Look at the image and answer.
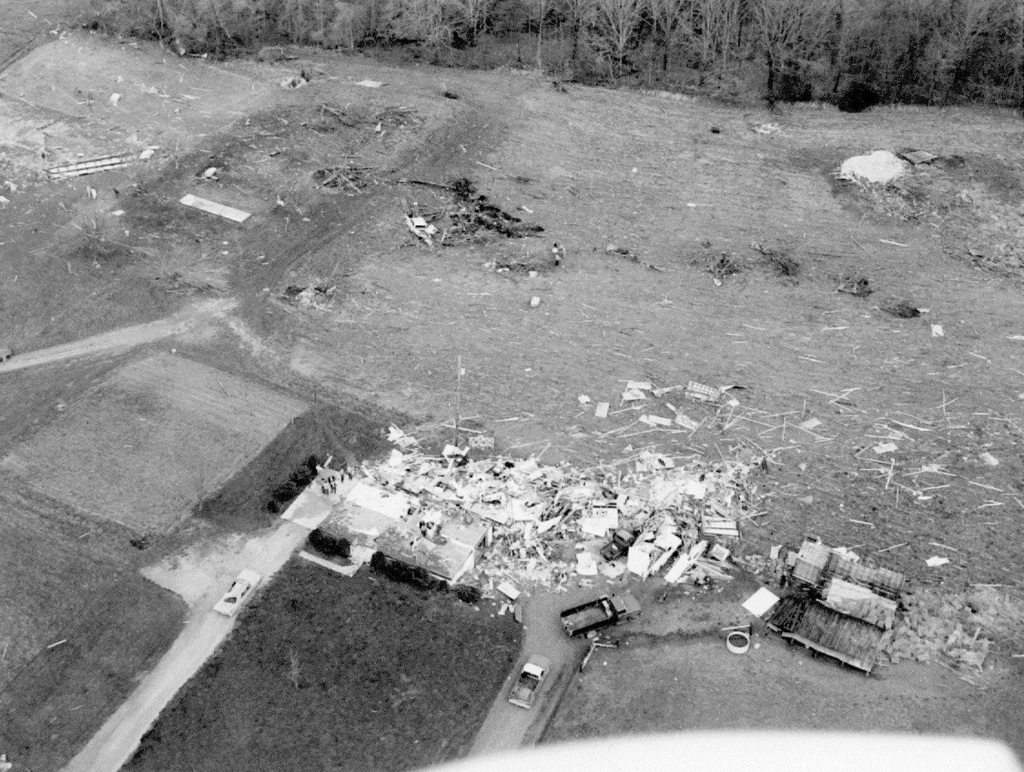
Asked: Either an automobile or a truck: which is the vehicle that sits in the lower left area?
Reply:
automobile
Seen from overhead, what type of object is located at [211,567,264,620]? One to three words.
car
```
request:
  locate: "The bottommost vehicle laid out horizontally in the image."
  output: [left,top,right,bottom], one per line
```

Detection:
[558,593,645,640]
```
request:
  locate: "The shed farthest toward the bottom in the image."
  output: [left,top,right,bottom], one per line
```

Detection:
[767,594,888,678]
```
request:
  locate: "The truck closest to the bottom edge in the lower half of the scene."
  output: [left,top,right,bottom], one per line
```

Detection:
[509,652,553,710]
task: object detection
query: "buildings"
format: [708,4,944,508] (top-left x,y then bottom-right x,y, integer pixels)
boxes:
[311,472,504,596]
[792,534,833,583]
[767,594,888,678]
